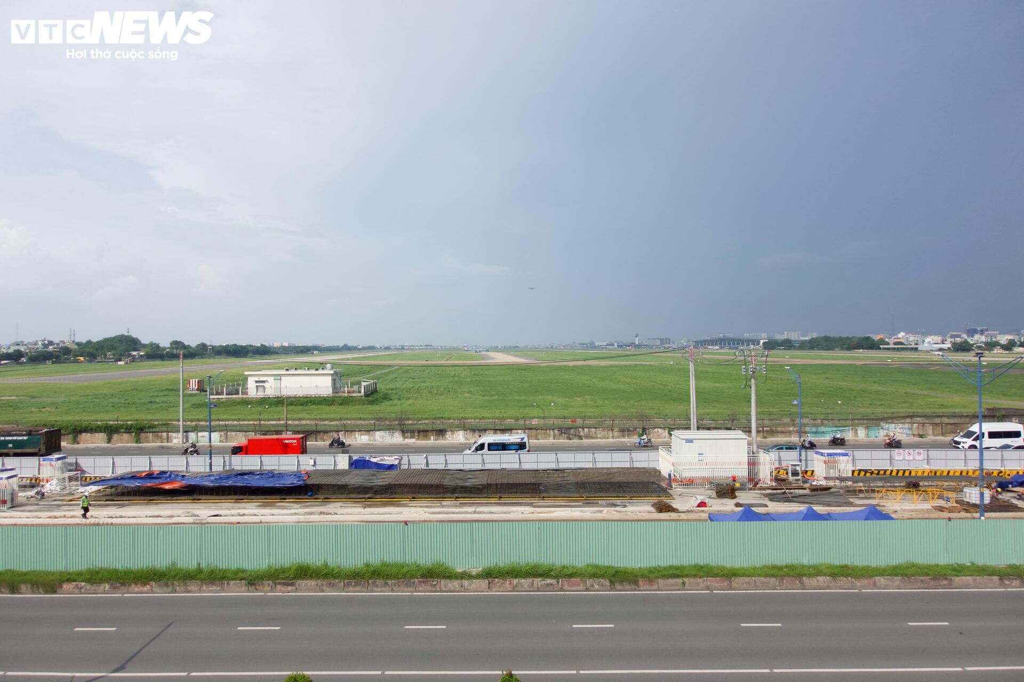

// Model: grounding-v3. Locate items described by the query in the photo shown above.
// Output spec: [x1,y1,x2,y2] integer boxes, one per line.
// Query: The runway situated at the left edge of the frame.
[0,358,318,383]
